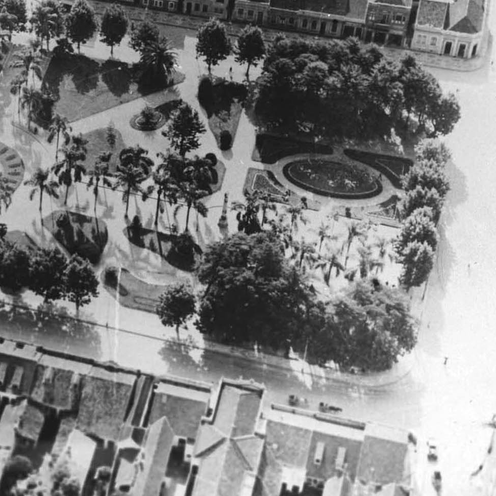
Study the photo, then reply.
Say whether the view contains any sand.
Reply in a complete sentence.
No, the picture contains no sand.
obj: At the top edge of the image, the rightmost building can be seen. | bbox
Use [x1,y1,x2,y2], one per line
[442,0,488,58]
